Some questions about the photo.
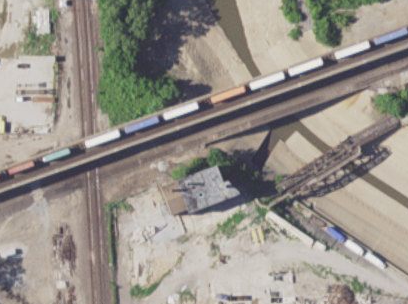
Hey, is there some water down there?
Yes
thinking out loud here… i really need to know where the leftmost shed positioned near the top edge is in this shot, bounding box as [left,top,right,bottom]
[37,9,50,34]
